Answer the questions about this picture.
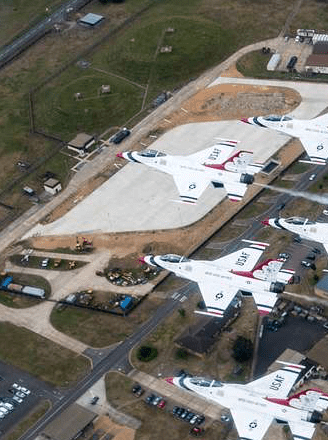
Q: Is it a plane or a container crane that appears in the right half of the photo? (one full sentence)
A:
There is a plane in the right half of the photo.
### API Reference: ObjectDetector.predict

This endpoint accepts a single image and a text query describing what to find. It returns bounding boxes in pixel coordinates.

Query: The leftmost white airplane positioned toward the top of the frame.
[106,138,262,204]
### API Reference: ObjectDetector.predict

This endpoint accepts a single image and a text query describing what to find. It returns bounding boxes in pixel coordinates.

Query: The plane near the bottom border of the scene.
[155,361,328,440]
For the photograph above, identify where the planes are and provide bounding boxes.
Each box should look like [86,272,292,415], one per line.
[155,361,328,440]
[131,241,295,317]
[106,138,262,204]
[235,112,328,164]
[252,220,328,256]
